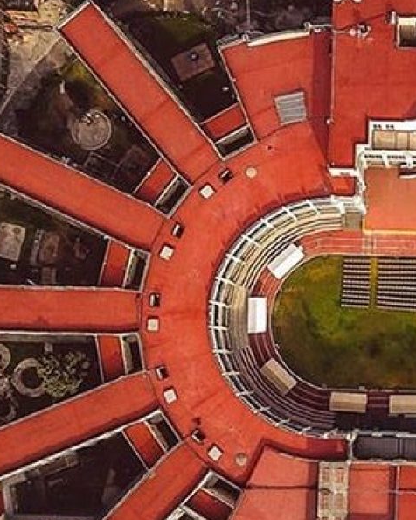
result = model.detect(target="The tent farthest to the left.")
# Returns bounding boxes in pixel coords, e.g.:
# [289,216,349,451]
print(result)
[247,297,267,332]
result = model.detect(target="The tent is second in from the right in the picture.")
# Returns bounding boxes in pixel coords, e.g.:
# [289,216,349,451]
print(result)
[331,391,368,412]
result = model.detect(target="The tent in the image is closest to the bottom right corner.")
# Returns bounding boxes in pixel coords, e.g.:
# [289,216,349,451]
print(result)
[390,393,416,414]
